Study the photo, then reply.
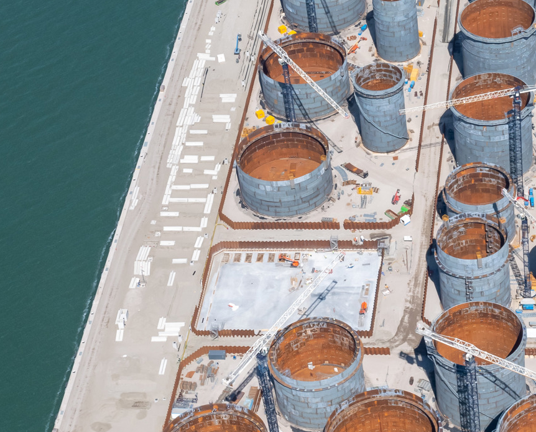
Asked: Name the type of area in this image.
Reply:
industrial area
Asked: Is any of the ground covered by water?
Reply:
Yes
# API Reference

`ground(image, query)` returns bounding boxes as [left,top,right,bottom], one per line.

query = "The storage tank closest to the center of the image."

[237,122,336,218]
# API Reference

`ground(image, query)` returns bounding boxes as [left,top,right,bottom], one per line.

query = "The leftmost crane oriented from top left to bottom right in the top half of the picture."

[254,30,348,123]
